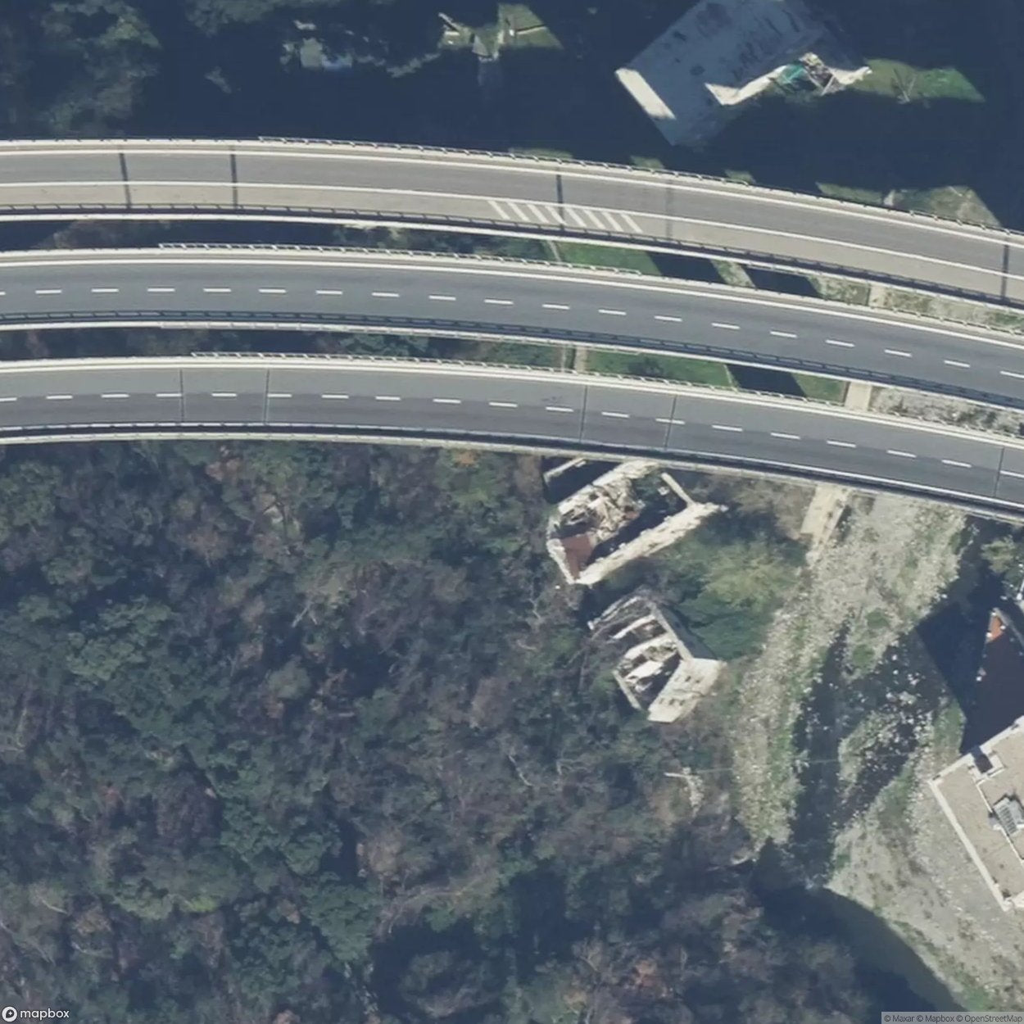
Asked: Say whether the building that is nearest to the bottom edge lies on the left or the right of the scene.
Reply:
right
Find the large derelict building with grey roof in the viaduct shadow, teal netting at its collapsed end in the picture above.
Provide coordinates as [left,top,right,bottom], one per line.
[616,0,880,150]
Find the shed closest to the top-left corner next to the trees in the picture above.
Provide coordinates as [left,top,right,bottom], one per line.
[301,39,344,71]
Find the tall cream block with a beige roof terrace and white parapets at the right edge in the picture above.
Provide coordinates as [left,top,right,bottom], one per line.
[930,716,1024,913]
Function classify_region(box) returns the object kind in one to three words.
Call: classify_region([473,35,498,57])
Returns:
shed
